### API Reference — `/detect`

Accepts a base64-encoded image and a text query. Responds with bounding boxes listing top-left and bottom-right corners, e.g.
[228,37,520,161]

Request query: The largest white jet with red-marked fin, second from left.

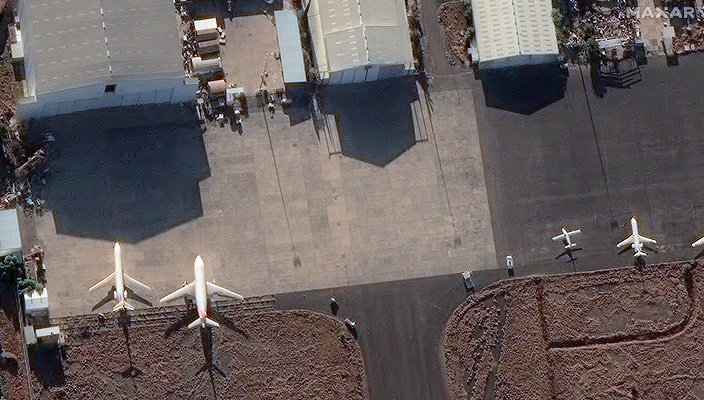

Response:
[160,257,243,329]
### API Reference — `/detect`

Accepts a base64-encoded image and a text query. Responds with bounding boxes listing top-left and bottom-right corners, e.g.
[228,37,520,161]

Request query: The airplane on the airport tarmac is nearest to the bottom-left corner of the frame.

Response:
[91,243,152,309]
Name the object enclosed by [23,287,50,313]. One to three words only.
house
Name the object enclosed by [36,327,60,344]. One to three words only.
building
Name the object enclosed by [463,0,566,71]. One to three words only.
hangar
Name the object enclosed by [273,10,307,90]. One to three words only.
shed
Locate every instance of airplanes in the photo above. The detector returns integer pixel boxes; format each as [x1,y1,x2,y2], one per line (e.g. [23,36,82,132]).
[91,243,152,309]
[551,226,581,249]
[160,257,243,329]
[693,236,704,245]
[618,216,659,255]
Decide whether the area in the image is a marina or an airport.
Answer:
airport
